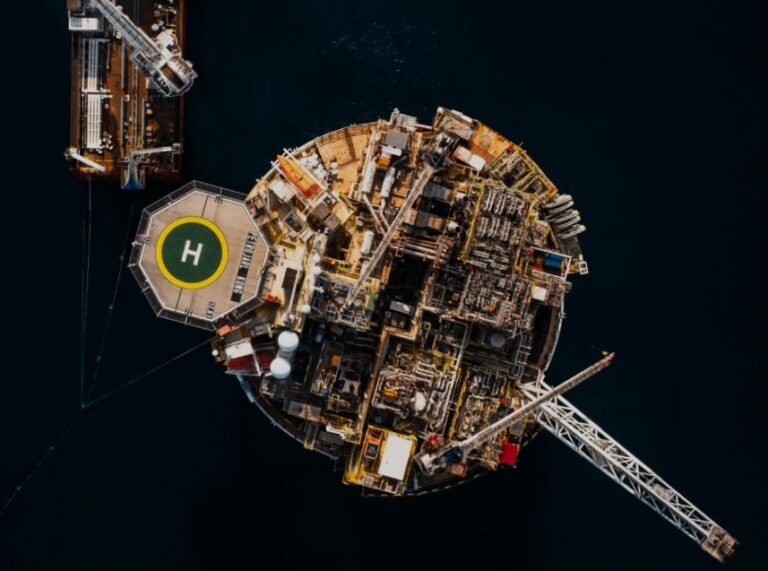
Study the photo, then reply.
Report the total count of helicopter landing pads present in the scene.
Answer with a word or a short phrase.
1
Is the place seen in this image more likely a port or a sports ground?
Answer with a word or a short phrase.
port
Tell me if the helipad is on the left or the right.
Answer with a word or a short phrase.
left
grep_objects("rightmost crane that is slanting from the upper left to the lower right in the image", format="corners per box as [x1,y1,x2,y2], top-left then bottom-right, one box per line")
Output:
[93,0,198,96]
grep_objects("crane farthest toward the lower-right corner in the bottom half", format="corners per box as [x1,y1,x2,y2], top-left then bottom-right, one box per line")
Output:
[410,349,620,476]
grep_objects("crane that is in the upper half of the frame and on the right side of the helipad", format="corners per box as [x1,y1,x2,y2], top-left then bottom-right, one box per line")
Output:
[341,127,460,310]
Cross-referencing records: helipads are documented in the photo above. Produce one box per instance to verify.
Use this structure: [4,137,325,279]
[129,179,268,332]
